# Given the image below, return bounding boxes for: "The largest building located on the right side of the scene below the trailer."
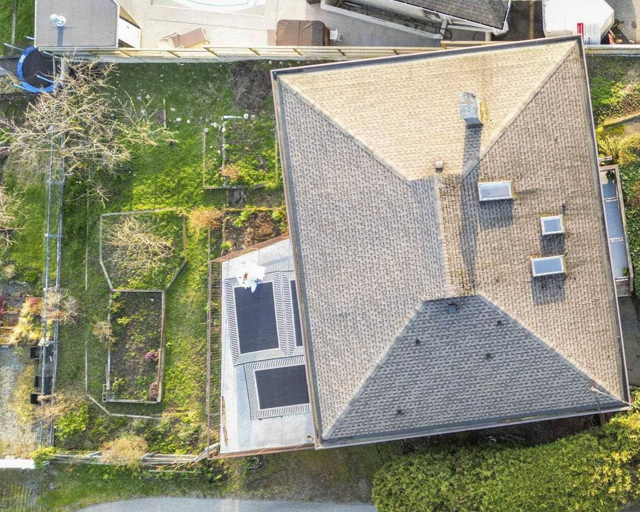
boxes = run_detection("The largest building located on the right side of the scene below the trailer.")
[271,36,632,447]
